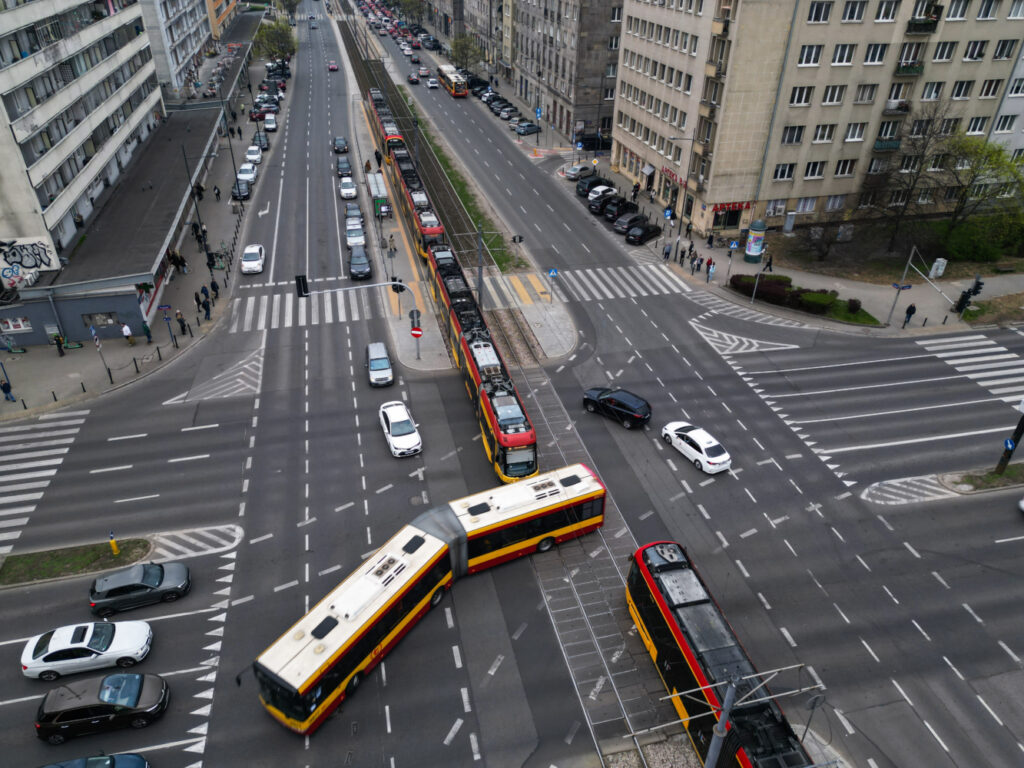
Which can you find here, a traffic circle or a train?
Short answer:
train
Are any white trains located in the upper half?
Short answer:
No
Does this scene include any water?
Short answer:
No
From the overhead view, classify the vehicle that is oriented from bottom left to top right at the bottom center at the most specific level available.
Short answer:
bus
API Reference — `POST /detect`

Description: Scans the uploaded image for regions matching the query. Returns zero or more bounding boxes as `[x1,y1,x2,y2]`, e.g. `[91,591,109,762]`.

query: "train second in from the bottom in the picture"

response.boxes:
[421,241,547,485]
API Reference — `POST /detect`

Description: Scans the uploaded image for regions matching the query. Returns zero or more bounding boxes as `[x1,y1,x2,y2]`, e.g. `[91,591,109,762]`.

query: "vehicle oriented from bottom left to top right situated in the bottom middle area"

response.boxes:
[226,461,609,743]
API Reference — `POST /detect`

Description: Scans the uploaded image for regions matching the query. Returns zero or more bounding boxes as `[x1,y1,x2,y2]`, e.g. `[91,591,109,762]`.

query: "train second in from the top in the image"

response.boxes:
[388,153,448,268]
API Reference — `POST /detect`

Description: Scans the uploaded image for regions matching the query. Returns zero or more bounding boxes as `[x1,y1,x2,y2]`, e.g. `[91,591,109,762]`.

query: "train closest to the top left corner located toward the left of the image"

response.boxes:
[369,102,406,170]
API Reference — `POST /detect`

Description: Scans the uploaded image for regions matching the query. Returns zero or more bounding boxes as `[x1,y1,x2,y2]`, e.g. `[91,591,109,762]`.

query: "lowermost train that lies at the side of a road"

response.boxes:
[620,540,824,768]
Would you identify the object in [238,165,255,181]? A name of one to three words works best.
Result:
car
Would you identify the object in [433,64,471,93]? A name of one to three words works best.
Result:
bus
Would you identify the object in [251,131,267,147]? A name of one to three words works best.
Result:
car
